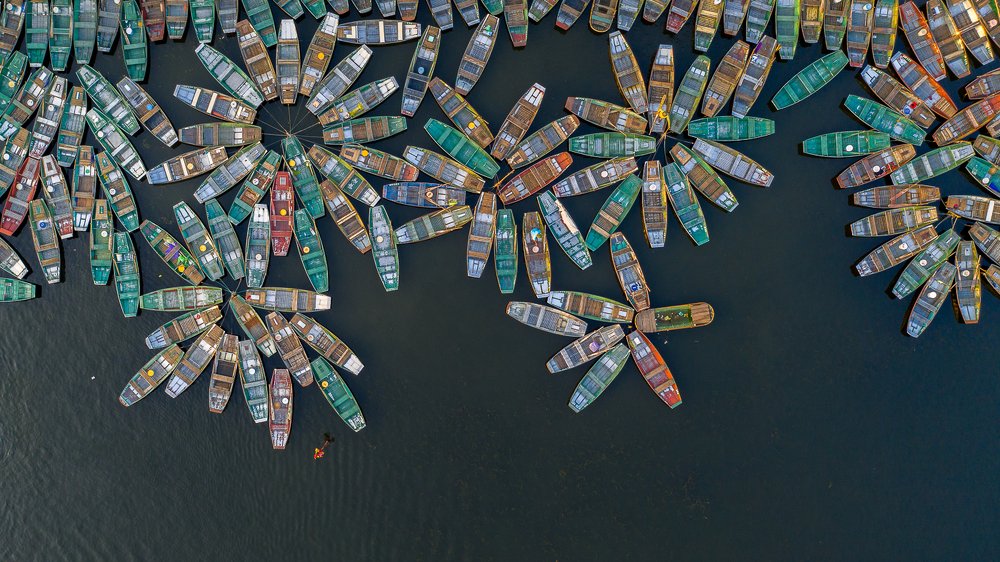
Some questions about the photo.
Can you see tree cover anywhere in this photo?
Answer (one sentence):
No, no tree cover is visible.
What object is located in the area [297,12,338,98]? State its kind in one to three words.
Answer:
boat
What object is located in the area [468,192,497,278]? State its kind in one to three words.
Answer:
boat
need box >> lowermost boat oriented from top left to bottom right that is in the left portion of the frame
[310,356,366,432]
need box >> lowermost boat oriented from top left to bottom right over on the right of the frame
[627,329,682,409]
